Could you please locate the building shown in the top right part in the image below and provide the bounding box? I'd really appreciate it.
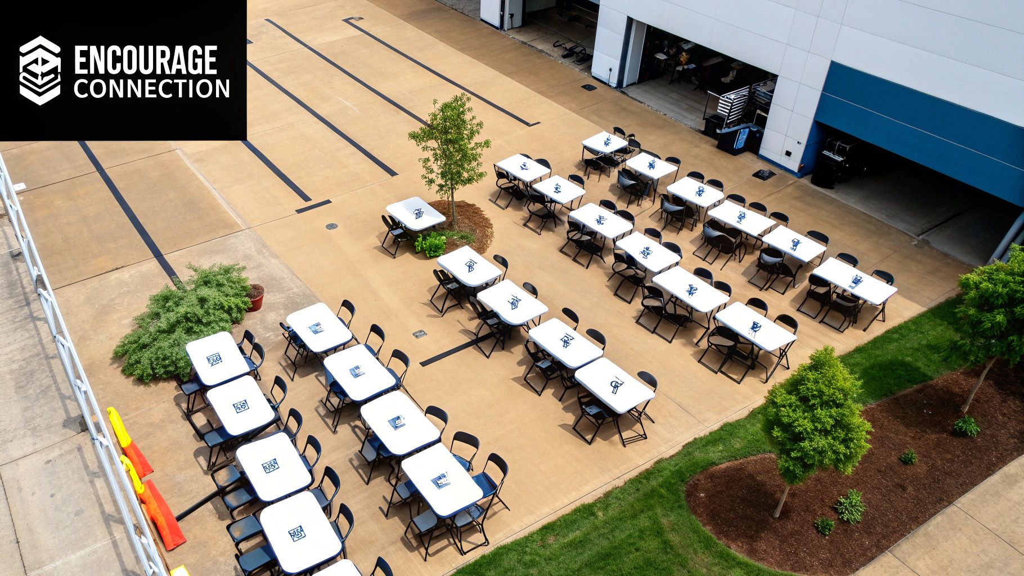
[481,0,1024,264]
